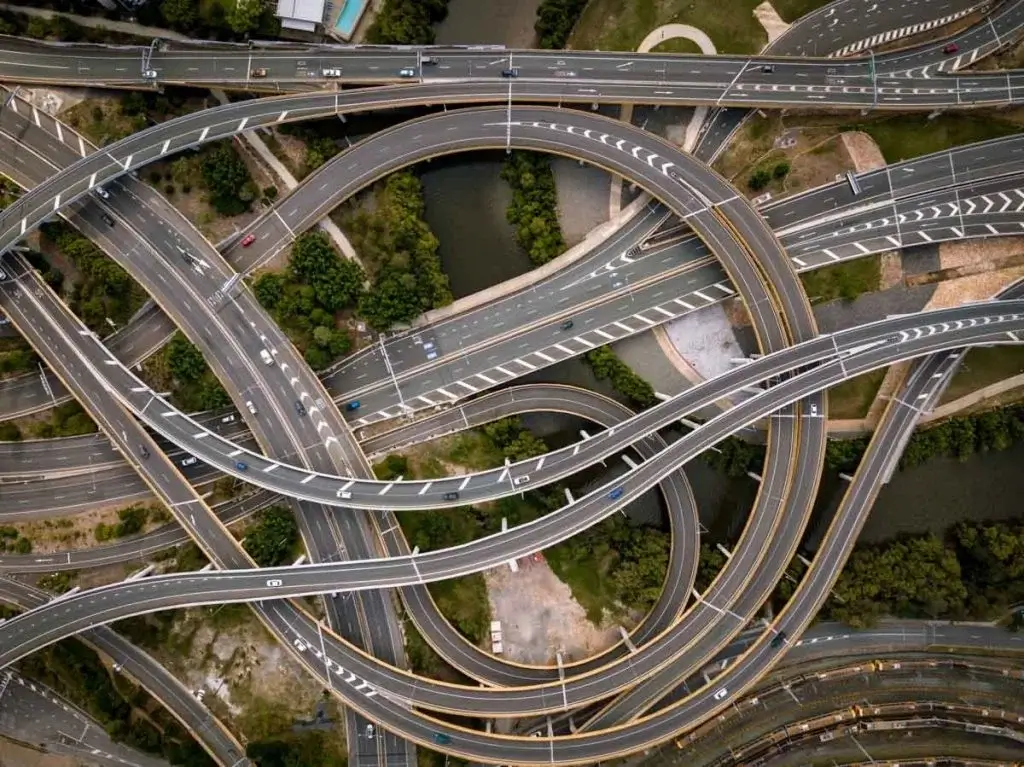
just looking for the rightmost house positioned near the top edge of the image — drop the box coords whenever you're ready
[274,0,325,32]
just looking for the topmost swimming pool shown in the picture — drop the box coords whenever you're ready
[318,0,375,43]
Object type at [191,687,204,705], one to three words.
vehicle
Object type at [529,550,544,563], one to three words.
vehicle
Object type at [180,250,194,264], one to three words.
car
